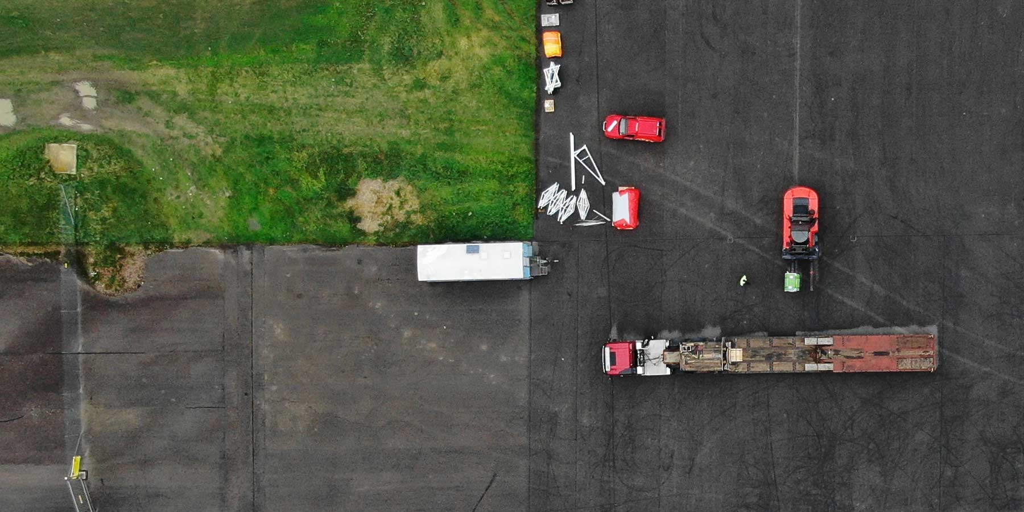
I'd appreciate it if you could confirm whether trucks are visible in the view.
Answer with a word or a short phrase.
Yes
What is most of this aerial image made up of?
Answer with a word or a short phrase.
paved ground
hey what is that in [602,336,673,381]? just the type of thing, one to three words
truck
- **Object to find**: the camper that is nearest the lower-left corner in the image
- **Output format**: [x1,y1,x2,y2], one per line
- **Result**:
[417,242,561,286]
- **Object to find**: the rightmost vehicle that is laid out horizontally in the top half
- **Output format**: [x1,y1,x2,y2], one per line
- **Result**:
[605,114,666,144]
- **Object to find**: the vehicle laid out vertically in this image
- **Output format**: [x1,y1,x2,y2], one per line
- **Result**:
[783,187,819,291]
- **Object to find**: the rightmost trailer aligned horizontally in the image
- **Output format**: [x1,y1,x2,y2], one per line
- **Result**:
[663,335,936,373]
